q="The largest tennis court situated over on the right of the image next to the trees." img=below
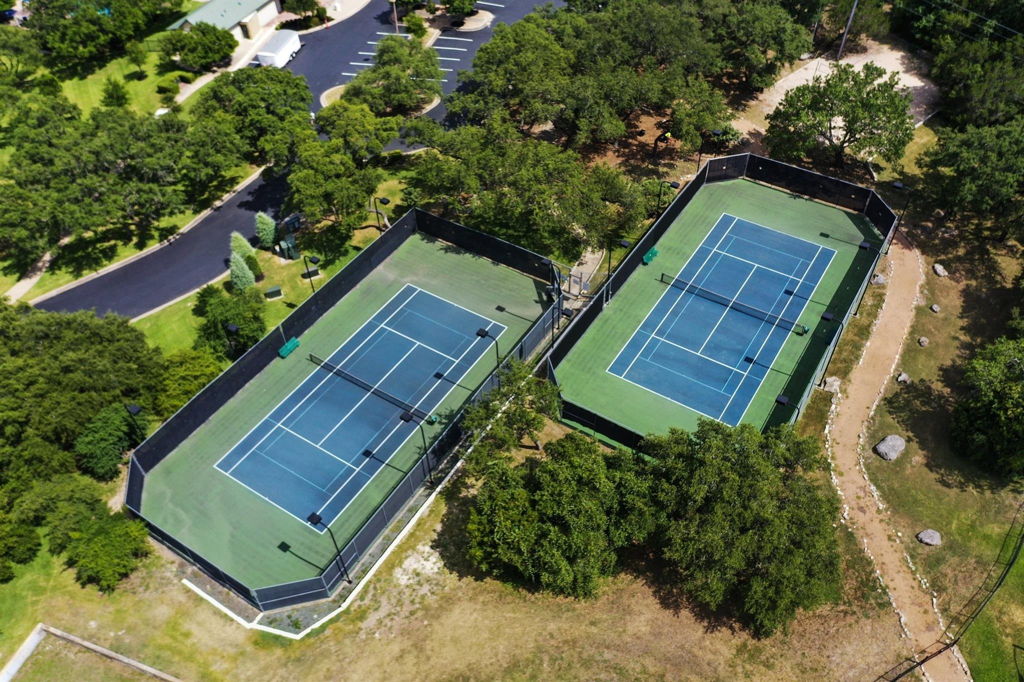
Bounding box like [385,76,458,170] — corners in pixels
[545,177,890,491]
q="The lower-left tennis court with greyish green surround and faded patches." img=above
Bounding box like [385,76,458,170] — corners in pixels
[132,232,589,622]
